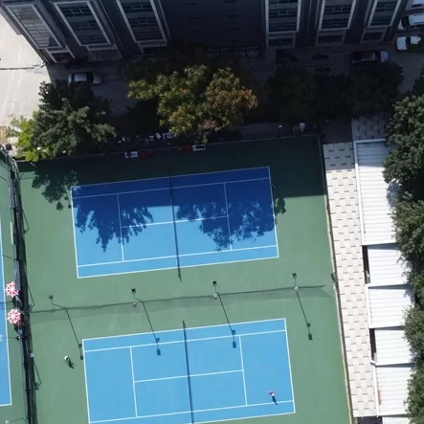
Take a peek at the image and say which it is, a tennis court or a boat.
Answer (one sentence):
The image shows a tennis court.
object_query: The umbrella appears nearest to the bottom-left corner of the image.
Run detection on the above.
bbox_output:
[9,310,24,323]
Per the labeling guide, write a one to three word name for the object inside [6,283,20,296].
umbrella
